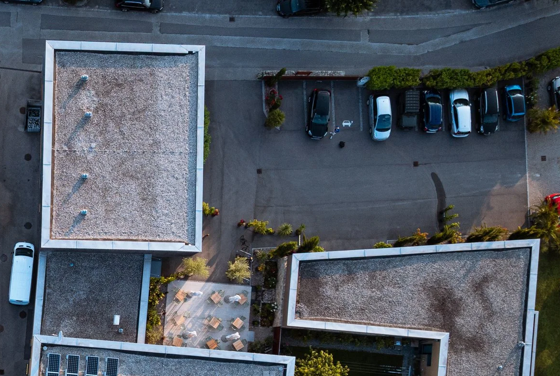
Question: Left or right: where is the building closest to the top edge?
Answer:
left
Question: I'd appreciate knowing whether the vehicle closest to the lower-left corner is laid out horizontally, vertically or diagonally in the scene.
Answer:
vertically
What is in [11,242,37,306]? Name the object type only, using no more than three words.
vehicle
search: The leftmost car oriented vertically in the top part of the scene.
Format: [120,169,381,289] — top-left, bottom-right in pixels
[305,88,330,141]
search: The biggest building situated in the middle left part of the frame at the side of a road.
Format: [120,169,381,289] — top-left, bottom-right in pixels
[37,41,205,262]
